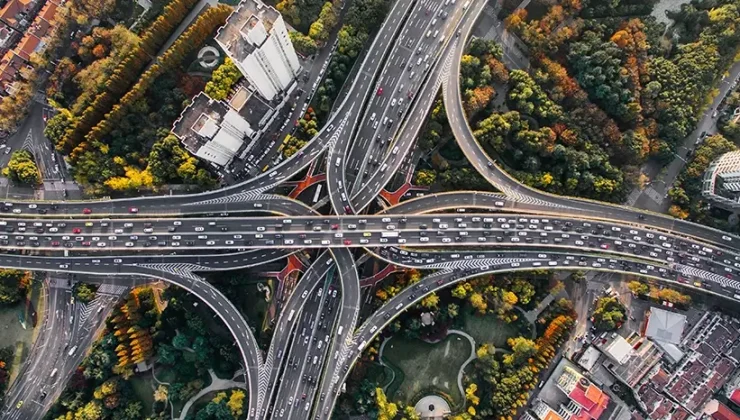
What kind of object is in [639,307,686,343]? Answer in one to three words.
building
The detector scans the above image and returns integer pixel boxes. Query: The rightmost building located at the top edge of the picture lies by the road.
[218,0,304,103]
